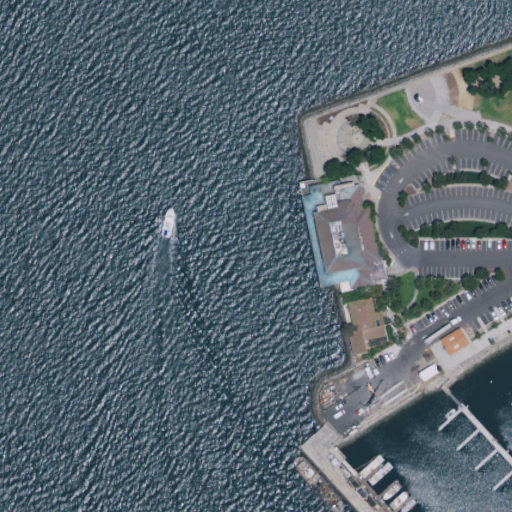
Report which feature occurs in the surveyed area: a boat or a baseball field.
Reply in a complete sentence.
Looking from above, you can make out a boat.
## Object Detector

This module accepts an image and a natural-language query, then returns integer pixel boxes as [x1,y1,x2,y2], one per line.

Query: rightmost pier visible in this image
[438,384,512,507]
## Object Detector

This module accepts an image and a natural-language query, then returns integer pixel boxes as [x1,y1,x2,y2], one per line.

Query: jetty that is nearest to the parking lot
[301,421,392,512]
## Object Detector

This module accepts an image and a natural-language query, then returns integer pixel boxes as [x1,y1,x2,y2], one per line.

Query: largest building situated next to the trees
[300,179,390,292]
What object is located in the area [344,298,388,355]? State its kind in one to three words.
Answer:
building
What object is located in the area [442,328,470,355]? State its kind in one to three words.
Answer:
building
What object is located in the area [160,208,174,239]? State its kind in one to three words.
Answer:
boat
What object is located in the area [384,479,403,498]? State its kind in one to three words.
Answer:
boat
